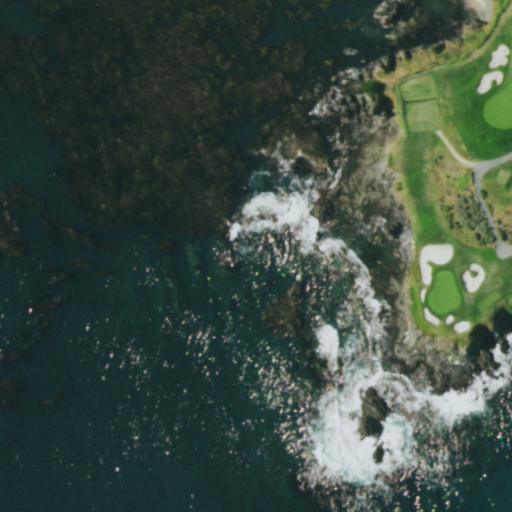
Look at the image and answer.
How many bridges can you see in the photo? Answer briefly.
0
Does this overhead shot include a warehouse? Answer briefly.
No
